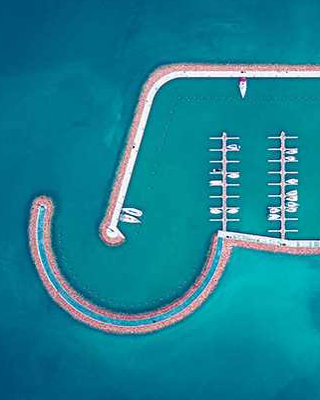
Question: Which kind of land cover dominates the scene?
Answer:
water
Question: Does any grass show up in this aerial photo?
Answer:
No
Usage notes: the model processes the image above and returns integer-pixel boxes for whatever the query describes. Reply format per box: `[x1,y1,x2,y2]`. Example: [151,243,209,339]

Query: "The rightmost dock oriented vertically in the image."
[268,131,298,239]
